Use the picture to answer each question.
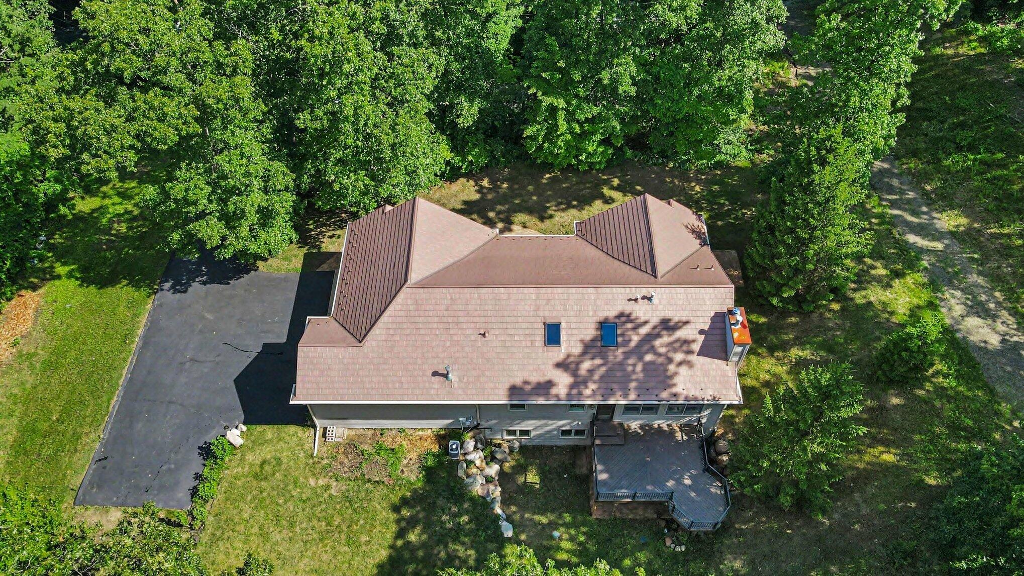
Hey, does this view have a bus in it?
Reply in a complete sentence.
No, no bus can be seen from above.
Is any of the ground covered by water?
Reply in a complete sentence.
No, no water is visible.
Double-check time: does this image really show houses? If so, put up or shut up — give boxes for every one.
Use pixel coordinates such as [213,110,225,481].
[290,193,752,456]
